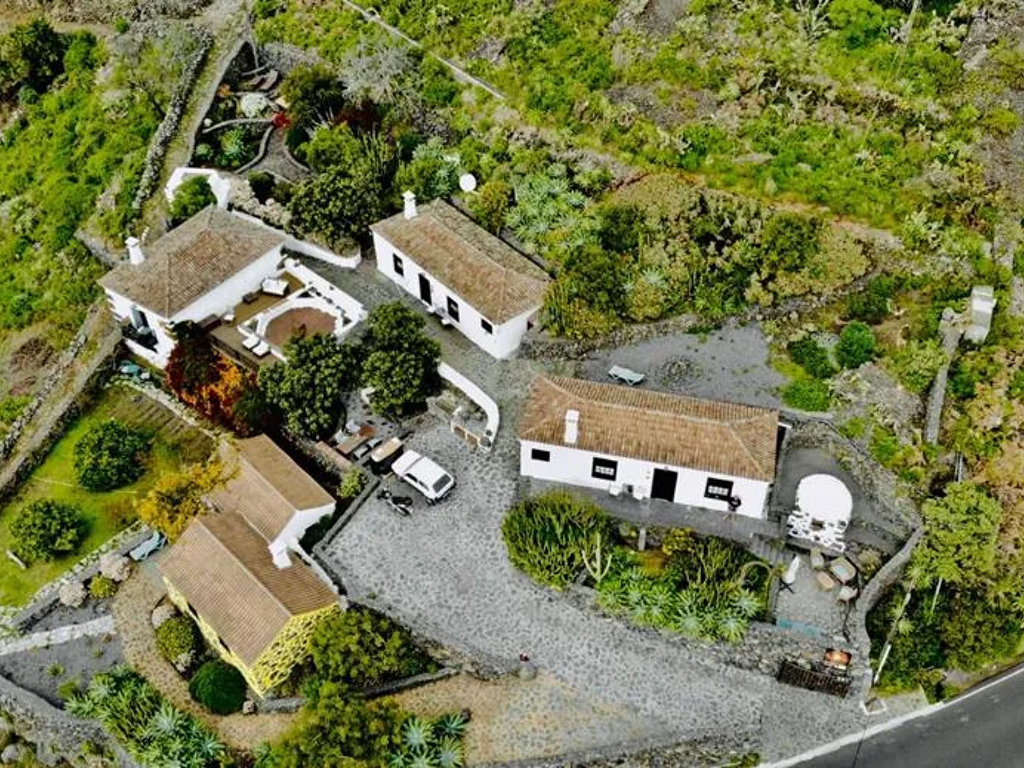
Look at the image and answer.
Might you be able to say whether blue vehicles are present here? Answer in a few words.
No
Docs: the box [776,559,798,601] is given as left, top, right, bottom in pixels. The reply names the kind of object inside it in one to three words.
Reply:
umbrella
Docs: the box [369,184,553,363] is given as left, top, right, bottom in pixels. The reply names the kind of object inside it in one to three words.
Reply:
house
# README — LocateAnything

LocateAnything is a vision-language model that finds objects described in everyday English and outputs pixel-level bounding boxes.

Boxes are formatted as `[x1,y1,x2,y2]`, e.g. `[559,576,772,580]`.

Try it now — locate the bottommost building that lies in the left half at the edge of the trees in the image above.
[157,511,355,691]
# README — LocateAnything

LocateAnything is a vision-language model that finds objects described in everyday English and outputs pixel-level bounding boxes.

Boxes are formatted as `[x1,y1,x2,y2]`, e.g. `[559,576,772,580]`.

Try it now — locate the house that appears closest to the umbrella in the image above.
[518,372,781,514]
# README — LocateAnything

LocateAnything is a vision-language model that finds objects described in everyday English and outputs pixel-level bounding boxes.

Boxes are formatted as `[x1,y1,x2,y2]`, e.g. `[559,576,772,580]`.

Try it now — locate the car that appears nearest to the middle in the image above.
[390,450,457,504]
